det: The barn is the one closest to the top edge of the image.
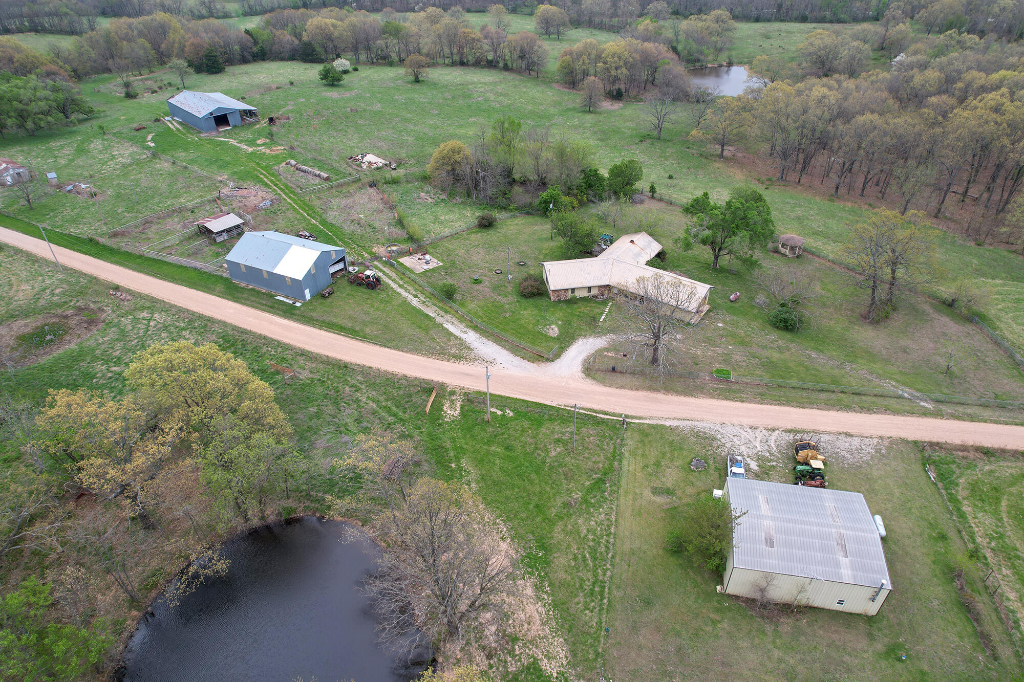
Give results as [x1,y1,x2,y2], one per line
[165,92,259,131]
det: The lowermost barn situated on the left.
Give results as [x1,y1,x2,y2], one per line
[225,231,346,301]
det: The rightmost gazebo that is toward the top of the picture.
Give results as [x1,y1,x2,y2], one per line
[778,228,811,255]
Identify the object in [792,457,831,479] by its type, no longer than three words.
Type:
work vehicle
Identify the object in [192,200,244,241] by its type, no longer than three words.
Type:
shed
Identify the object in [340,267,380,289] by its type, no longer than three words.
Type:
work vehicle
